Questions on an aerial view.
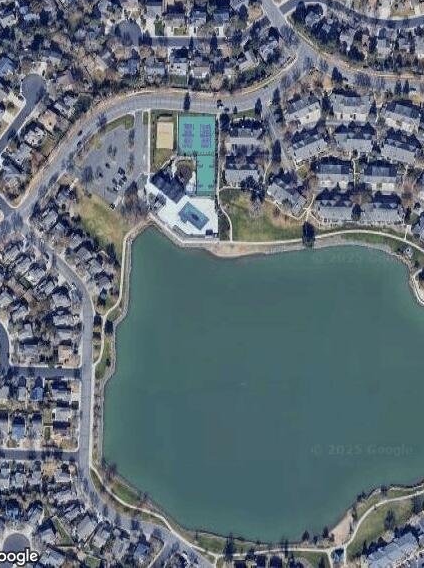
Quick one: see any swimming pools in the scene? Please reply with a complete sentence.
Yes, this view includes a swimming pool.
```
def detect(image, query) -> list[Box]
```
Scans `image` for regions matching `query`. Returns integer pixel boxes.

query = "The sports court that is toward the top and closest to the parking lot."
[156,122,173,148]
